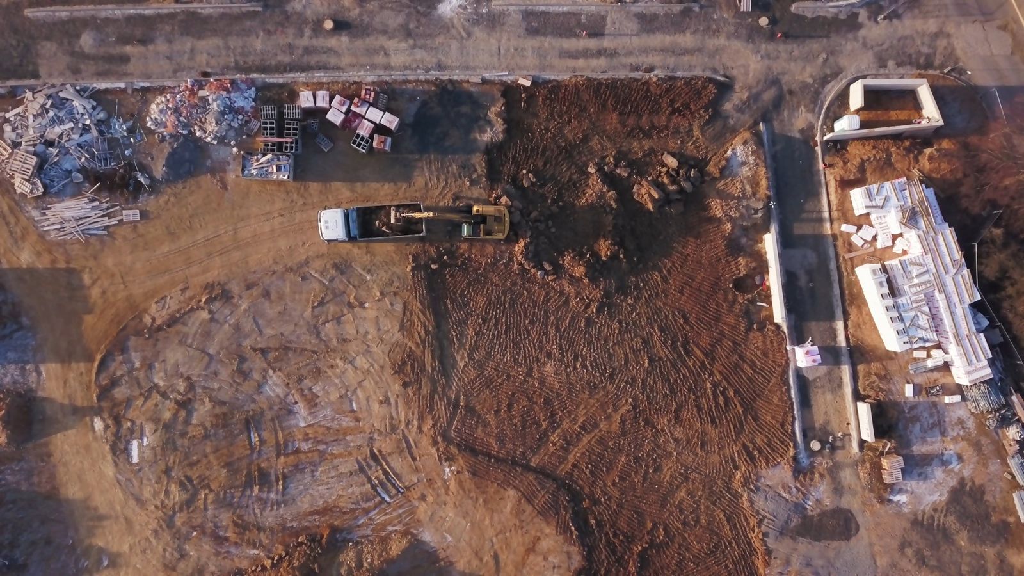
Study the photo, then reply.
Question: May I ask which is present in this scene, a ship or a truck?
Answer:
truck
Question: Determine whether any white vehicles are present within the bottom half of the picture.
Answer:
No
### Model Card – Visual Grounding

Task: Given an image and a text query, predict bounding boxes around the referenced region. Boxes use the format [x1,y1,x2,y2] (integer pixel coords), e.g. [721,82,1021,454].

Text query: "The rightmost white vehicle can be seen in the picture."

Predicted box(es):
[309,199,425,245]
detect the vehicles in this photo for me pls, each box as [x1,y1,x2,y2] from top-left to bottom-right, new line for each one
[309,199,425,245]
[394,201,514,237]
